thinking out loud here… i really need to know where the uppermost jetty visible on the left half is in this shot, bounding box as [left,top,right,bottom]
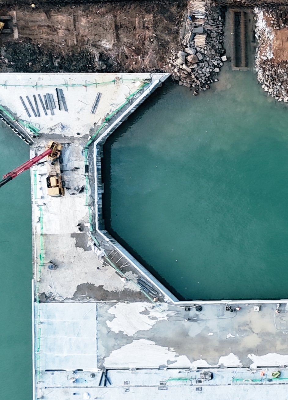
[0,72,183,303]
